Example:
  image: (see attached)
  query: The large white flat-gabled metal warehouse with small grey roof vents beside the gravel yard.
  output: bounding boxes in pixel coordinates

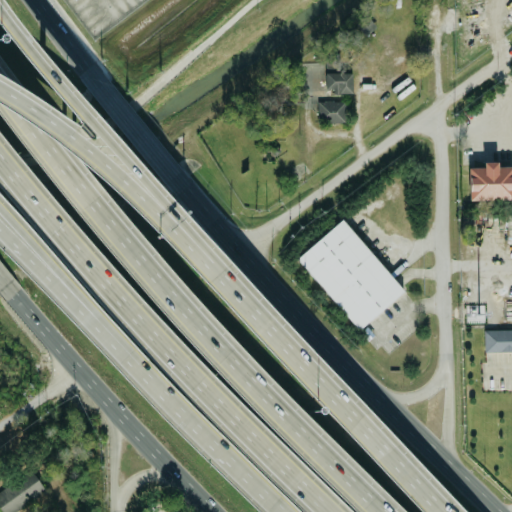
[298,220,406,328]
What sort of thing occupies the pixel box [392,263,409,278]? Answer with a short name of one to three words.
vehicle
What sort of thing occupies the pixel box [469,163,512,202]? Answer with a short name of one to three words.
building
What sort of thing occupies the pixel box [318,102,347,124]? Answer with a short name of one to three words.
house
